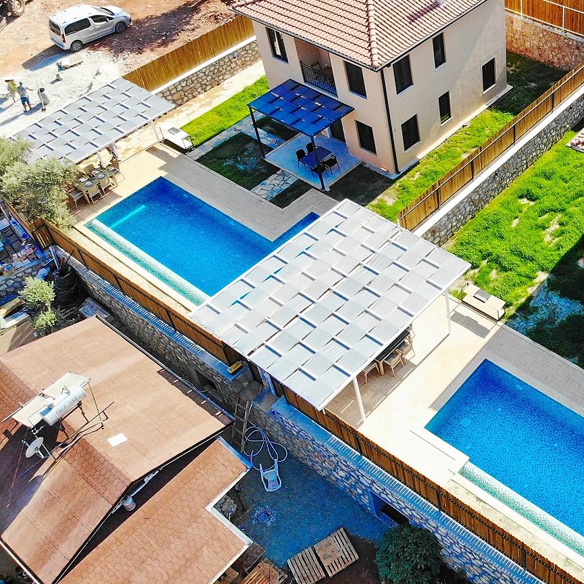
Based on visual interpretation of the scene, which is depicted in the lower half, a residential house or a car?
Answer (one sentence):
The one visible in the lower half is a residential house.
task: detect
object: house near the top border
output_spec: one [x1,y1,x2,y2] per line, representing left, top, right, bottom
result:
[228,0,519,183]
